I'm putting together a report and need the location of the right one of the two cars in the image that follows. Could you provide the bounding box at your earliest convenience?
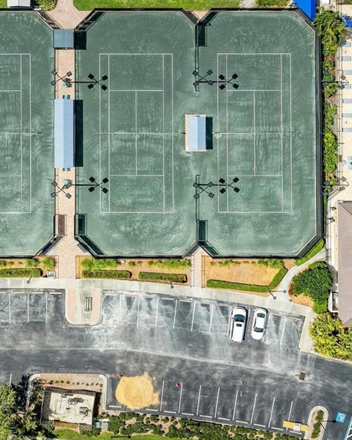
[250,307,267,340]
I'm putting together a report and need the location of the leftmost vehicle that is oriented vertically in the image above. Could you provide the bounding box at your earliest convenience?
[229,307,247,342]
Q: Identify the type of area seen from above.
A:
sports ground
